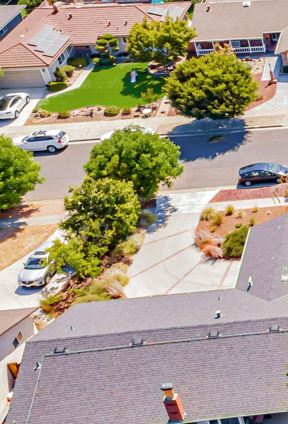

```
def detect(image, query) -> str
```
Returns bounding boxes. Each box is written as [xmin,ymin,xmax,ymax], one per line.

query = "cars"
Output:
[234,162,288,187]
[97,122,154,146]
[15,123,70,151]
[0,93,34,119]
[0,240,58,293]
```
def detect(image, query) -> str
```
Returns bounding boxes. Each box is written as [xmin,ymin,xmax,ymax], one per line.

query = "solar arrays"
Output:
[30,32,65,57]
[157,1,179,13]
